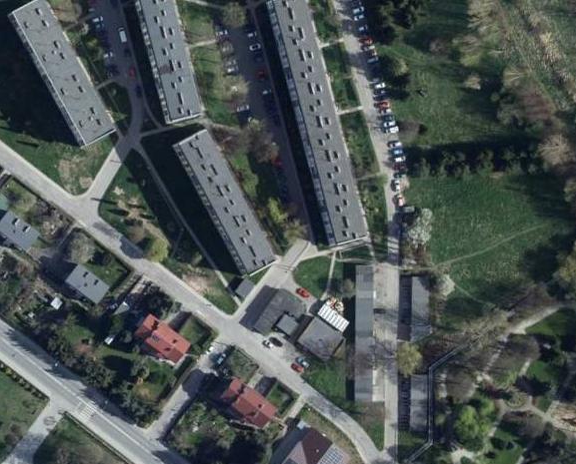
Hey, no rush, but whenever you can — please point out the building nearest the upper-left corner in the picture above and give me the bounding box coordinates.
[9,0,115,148]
